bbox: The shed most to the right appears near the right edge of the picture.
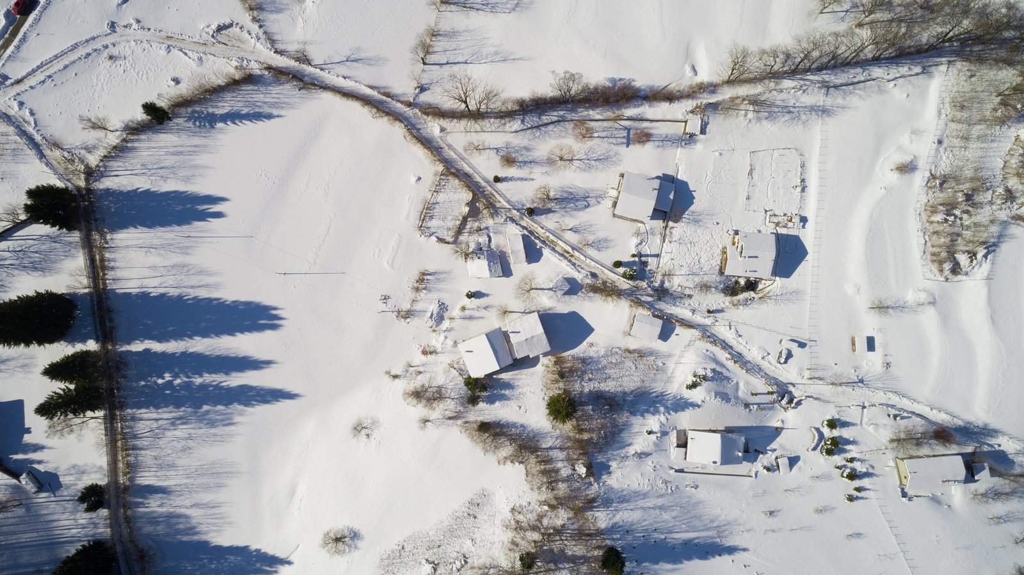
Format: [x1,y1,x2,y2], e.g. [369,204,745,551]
[966,461,992,479]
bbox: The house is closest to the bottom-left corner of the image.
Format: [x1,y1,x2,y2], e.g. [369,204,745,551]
[458,327,513,378]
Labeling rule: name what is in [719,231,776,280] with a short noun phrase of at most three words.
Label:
house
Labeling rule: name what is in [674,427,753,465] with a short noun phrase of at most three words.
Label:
house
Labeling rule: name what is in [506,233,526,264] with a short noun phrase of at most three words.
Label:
building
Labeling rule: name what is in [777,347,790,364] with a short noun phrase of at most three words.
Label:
vehicle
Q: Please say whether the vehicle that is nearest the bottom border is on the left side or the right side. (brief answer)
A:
left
